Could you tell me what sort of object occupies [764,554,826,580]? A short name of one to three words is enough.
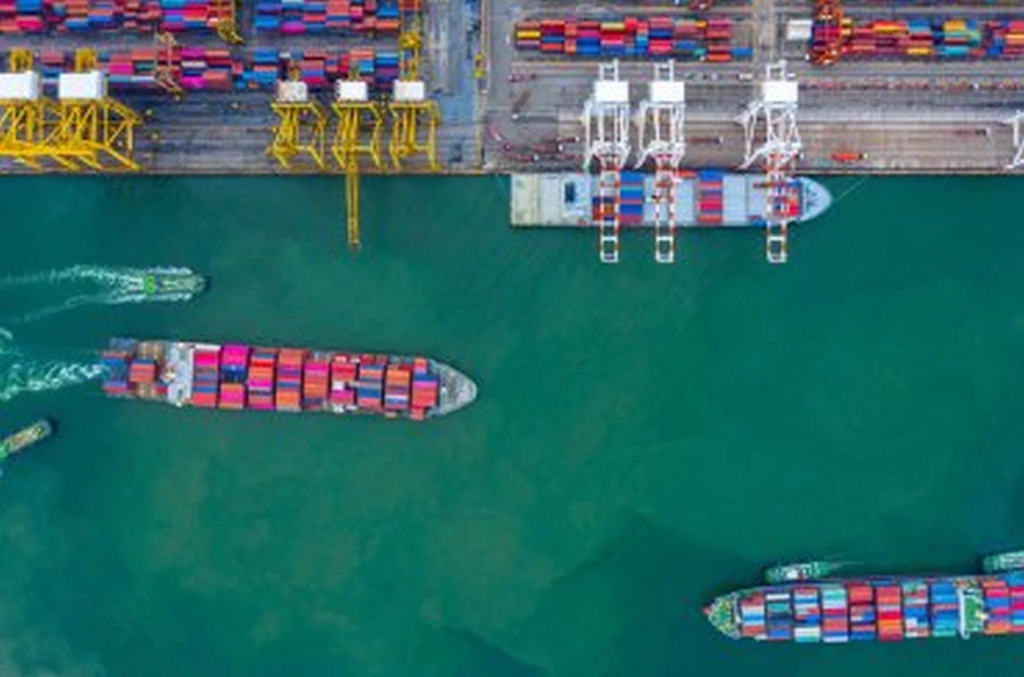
boat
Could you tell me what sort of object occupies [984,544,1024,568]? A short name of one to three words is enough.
boat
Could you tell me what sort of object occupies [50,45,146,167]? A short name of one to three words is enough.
container crane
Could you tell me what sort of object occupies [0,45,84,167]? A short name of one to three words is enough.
container crane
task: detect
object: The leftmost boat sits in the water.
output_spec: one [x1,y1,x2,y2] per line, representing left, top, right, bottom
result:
[0,421,53,464]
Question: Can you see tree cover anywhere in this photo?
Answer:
No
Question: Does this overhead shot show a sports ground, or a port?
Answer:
port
